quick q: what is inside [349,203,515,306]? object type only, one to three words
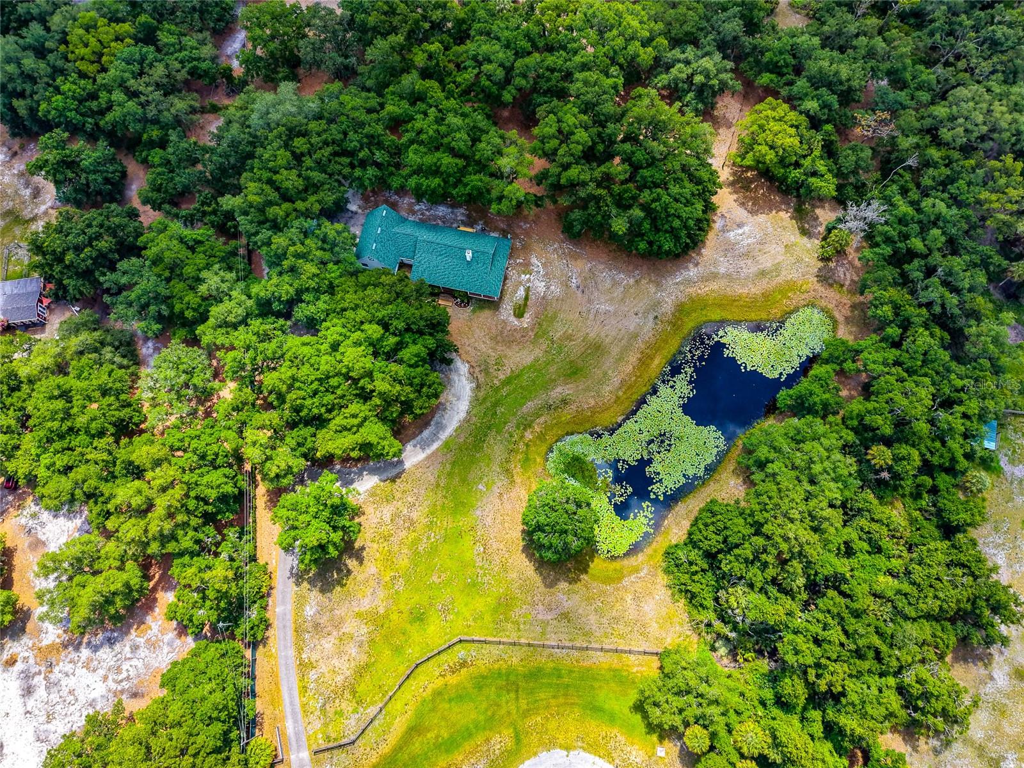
house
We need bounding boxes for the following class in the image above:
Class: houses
[0,275,51,339]
[349,203,515,306]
